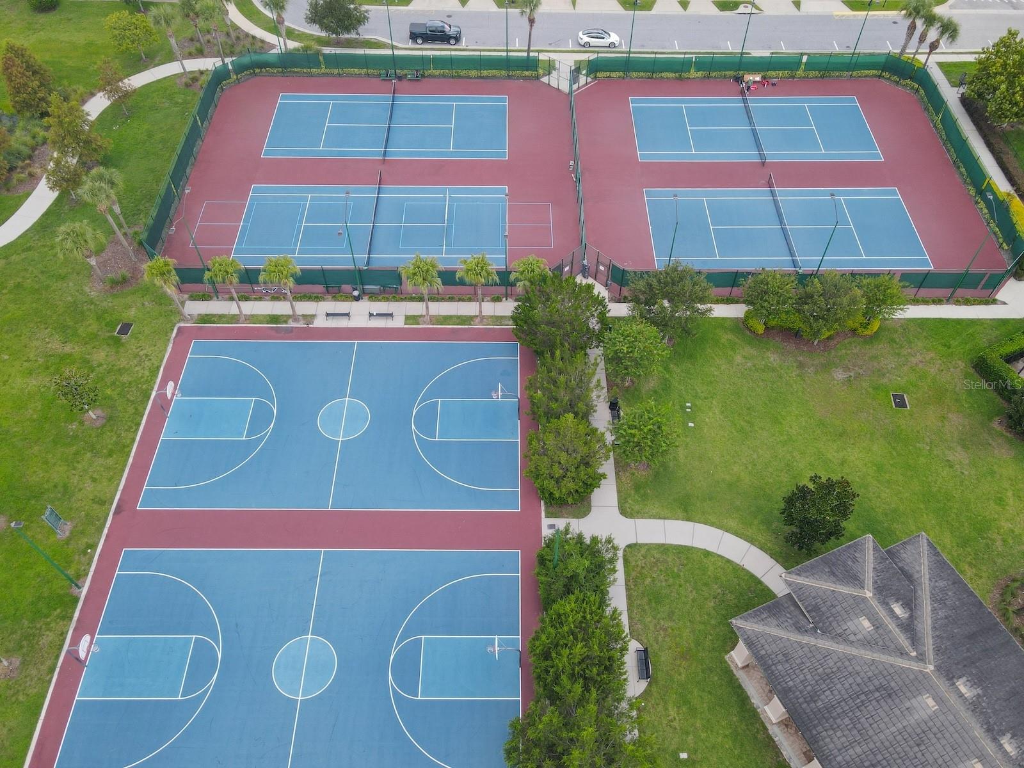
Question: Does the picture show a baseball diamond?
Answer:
No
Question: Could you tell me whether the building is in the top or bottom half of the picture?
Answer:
bottom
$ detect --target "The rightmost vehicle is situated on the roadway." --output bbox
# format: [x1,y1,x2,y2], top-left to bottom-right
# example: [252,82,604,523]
[578,28,620,47]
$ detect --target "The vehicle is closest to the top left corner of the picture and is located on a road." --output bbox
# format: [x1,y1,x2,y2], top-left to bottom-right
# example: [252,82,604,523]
[408,21,462,44]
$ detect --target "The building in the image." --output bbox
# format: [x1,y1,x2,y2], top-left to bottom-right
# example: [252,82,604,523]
[724,532,1024,768]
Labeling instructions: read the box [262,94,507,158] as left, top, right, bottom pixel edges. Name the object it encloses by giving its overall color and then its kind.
blue tennis court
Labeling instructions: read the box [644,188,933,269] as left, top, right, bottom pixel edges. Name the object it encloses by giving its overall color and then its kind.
blue tennis court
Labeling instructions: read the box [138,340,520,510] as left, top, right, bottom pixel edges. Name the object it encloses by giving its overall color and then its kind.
blue basketball court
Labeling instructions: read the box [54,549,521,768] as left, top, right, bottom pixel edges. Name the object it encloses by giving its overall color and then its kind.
blue basketball court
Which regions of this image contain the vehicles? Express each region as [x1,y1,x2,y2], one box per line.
[408,21,462,44]
[578,28,620,47]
